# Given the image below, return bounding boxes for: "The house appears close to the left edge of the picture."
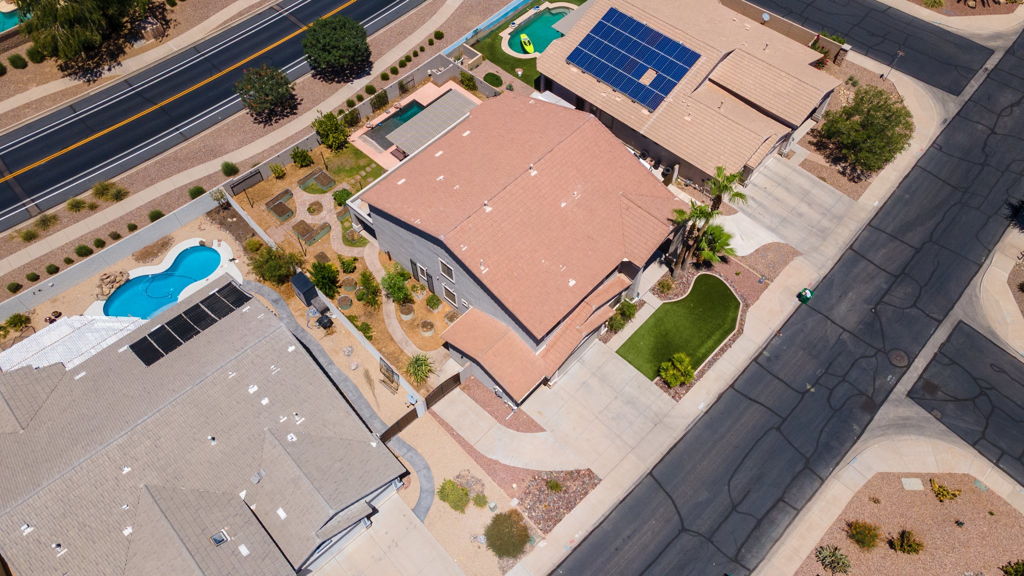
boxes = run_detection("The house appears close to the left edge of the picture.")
[0,269,406,576]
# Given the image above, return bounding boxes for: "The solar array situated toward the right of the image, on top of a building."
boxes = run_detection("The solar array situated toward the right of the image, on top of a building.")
[564,8,699,111]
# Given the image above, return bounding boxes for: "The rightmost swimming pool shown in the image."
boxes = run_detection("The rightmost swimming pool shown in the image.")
[508,6,568,54]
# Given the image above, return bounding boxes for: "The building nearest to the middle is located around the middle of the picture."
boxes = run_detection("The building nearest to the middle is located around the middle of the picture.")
[345,91,692,427]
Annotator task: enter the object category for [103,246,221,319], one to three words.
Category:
swimming pool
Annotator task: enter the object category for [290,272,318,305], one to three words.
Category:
shed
